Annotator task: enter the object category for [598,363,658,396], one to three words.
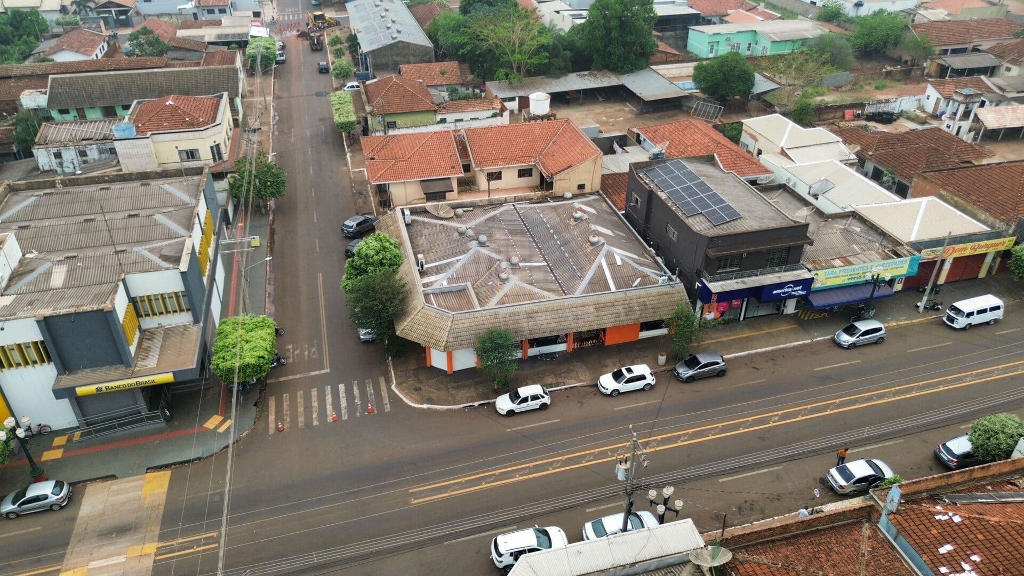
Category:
car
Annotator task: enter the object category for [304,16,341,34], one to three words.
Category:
work vehicle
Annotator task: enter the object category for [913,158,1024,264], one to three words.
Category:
house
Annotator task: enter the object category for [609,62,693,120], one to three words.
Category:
shed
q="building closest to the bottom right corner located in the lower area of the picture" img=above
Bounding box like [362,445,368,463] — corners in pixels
[867,455,1024,576]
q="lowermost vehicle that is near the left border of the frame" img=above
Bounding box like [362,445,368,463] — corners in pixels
[0,477,74,518]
